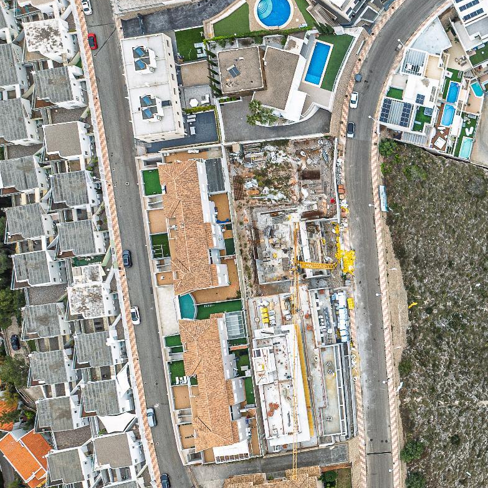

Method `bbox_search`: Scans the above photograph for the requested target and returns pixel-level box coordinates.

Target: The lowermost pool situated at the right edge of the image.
[459,137,474,158]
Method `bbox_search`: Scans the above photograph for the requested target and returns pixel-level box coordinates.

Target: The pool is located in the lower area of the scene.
[179,293,196,321]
